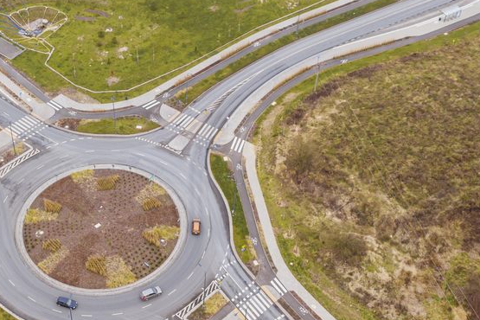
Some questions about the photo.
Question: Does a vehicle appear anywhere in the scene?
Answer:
Yes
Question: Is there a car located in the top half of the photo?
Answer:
No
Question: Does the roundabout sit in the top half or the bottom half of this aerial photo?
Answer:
bottom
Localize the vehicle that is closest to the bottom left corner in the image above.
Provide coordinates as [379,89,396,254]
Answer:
[53,295,80,311]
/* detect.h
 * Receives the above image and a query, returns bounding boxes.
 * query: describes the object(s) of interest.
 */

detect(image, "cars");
[138,284,163,303]
[190,221,201,237]
[53,295,80,311]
